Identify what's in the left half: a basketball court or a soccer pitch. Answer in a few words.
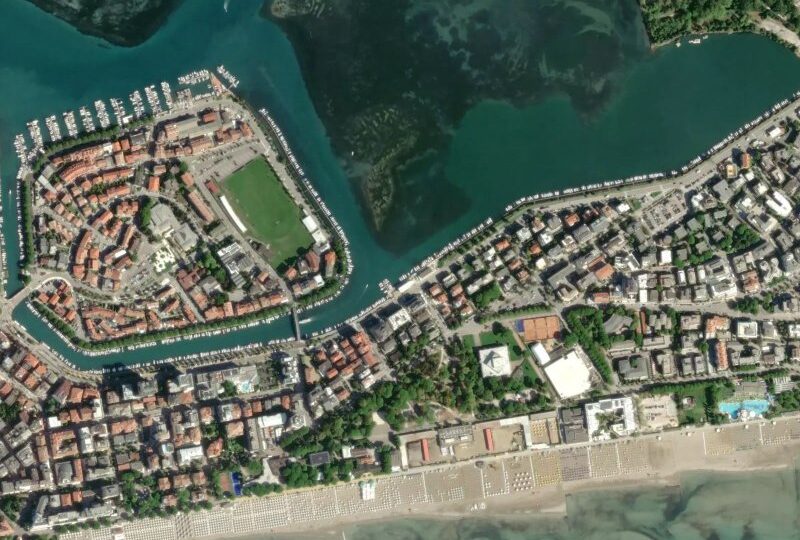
soccer pitch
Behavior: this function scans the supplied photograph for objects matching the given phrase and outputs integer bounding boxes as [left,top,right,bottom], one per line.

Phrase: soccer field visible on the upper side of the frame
[220,156,313,266]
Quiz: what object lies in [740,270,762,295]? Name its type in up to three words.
house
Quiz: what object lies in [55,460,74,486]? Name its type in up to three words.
building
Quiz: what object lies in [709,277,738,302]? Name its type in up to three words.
building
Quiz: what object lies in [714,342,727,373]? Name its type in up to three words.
house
